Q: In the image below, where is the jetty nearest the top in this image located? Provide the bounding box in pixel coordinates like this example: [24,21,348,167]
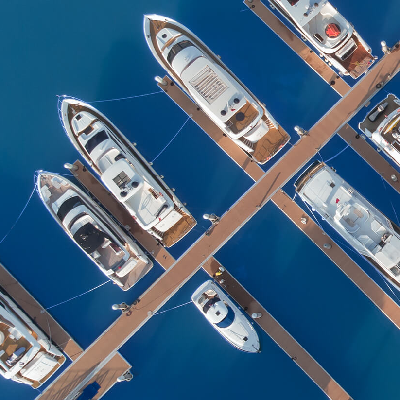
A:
[242,0,351,97]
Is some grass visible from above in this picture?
No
